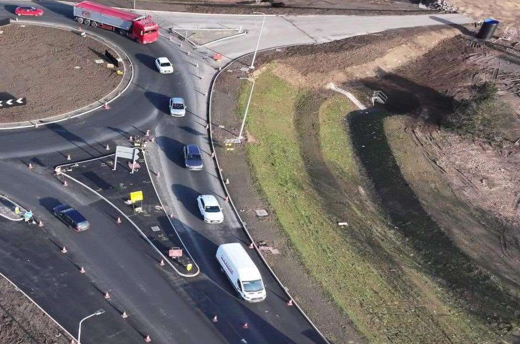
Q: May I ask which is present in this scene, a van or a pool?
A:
van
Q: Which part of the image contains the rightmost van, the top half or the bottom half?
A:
bottom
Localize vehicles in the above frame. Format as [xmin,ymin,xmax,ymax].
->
[52,200,93,231]
[170,93,186,114]
[15,3,43,17]
[155,54,172,71]
[75,0,174,41]
[183,141,203,168]
[219,228,272,299]
[196,191,224,222]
